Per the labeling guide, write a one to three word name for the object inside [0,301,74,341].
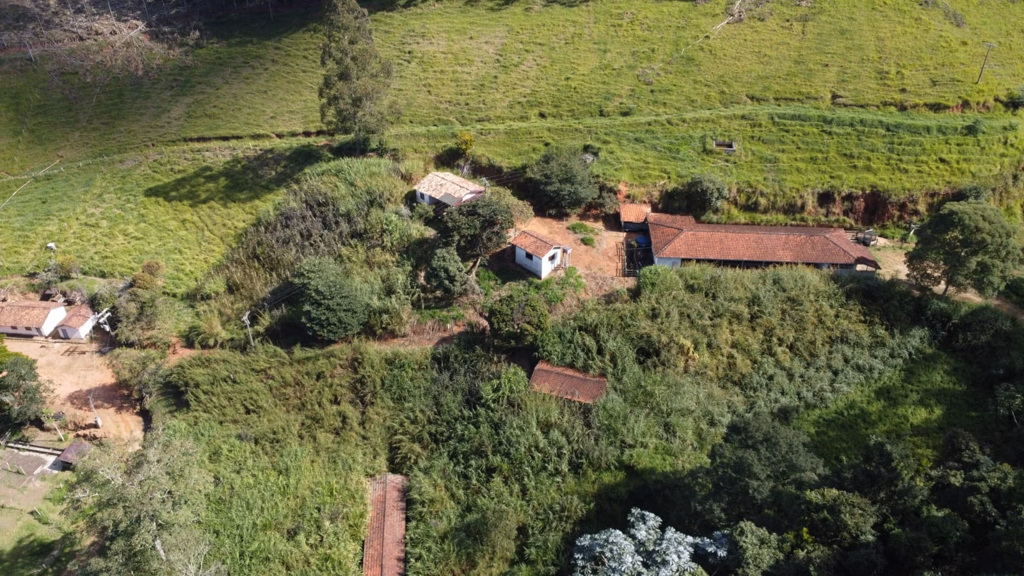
house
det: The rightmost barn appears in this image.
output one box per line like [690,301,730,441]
[648,209,870,281]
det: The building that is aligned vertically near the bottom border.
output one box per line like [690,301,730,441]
[358,470,406,576]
